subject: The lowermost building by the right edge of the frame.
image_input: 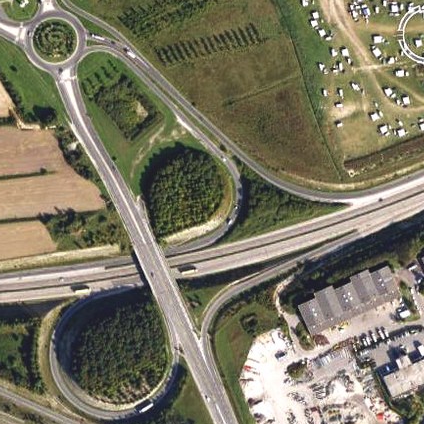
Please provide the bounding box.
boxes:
[385,345,424,399]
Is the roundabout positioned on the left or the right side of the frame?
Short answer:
left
